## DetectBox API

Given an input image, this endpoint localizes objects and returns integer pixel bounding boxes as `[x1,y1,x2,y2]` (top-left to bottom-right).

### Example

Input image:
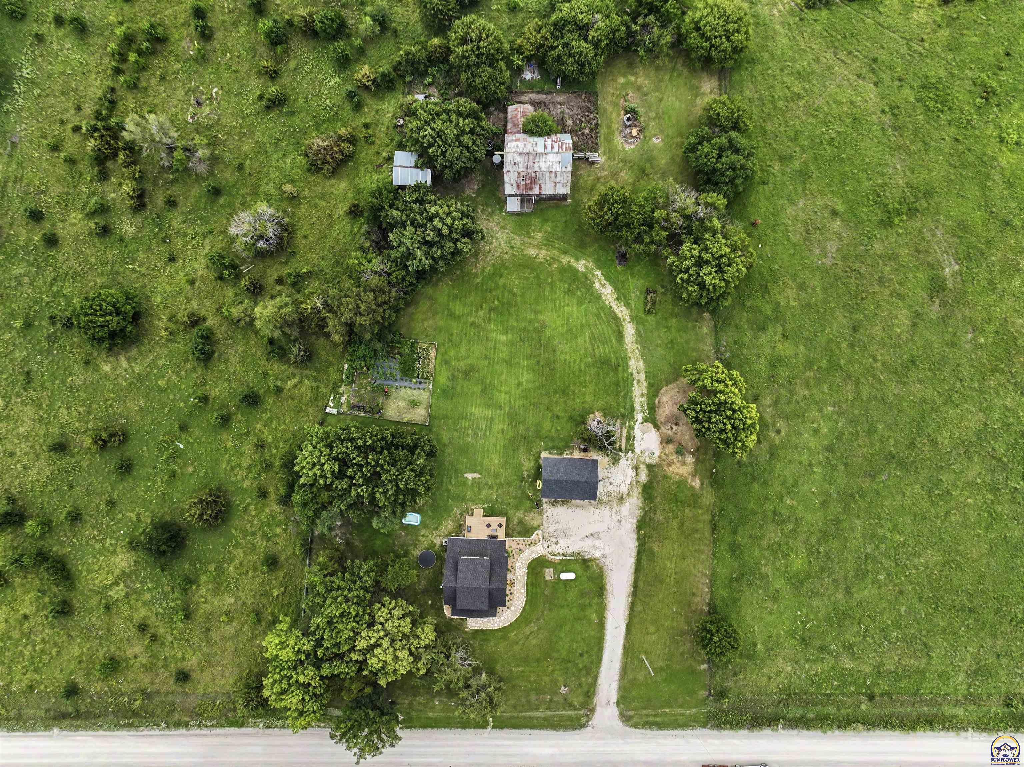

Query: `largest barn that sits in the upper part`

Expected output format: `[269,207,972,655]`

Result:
[495,134,573,199]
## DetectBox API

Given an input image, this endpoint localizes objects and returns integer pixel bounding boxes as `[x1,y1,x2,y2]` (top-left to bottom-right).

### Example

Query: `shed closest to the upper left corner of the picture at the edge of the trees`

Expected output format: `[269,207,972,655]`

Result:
[389,151,431,186]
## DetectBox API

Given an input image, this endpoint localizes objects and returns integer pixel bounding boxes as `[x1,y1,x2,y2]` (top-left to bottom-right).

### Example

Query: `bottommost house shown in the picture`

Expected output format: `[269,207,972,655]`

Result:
[443,536,507,617]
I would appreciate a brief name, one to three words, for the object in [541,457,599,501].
building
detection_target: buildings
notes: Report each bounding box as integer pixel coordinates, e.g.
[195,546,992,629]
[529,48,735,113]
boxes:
[495,134,573,199]
[541,457,599,501]
[389,151,431,186]
[443,536,507,617]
